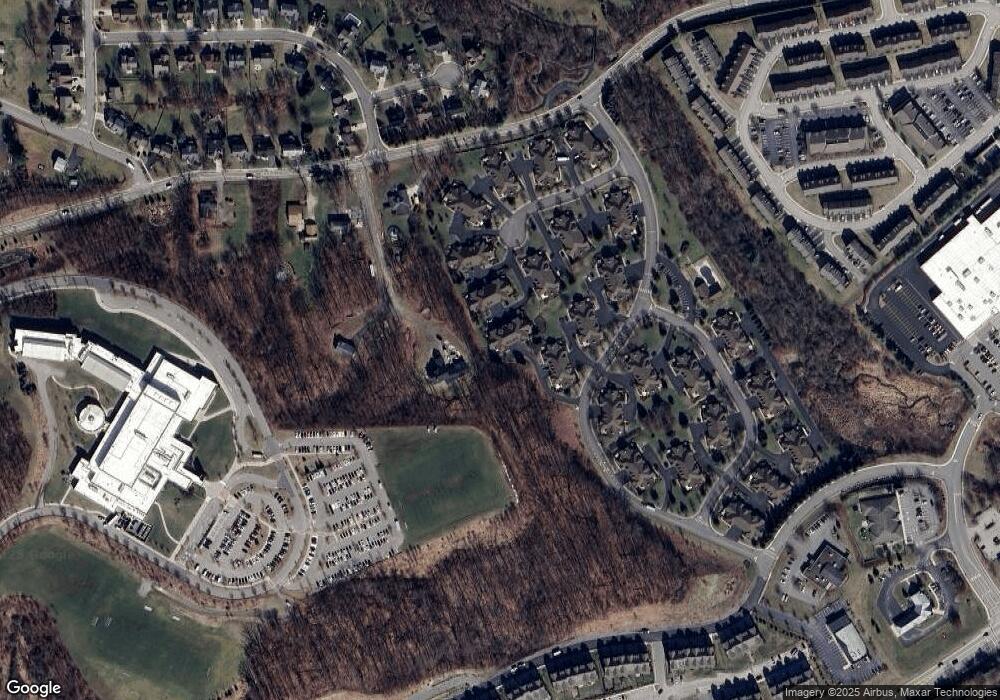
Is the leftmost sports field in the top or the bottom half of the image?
bottom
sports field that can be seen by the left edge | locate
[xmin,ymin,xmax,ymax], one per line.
[2,534,235,700]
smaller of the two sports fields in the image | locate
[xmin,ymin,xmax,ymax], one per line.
[369,427,506,543]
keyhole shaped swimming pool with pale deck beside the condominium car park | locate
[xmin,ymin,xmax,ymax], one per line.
[692,256,724,288]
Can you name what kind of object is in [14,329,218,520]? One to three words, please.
building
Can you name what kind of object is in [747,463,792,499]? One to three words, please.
house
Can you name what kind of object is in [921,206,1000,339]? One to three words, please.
building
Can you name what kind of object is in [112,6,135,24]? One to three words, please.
house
